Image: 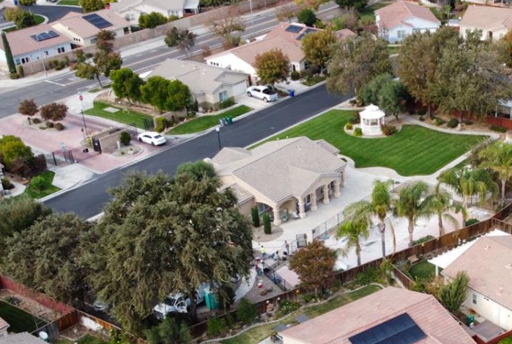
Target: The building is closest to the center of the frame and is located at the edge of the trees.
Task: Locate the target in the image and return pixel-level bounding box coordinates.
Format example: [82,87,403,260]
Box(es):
[209,134,349,227]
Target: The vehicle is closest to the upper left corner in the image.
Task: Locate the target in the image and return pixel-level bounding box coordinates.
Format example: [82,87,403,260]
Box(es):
[137,132,165,145]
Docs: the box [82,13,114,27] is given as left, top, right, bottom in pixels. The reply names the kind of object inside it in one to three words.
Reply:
solar array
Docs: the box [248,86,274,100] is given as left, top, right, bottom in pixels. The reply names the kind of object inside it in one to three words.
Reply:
vehicle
